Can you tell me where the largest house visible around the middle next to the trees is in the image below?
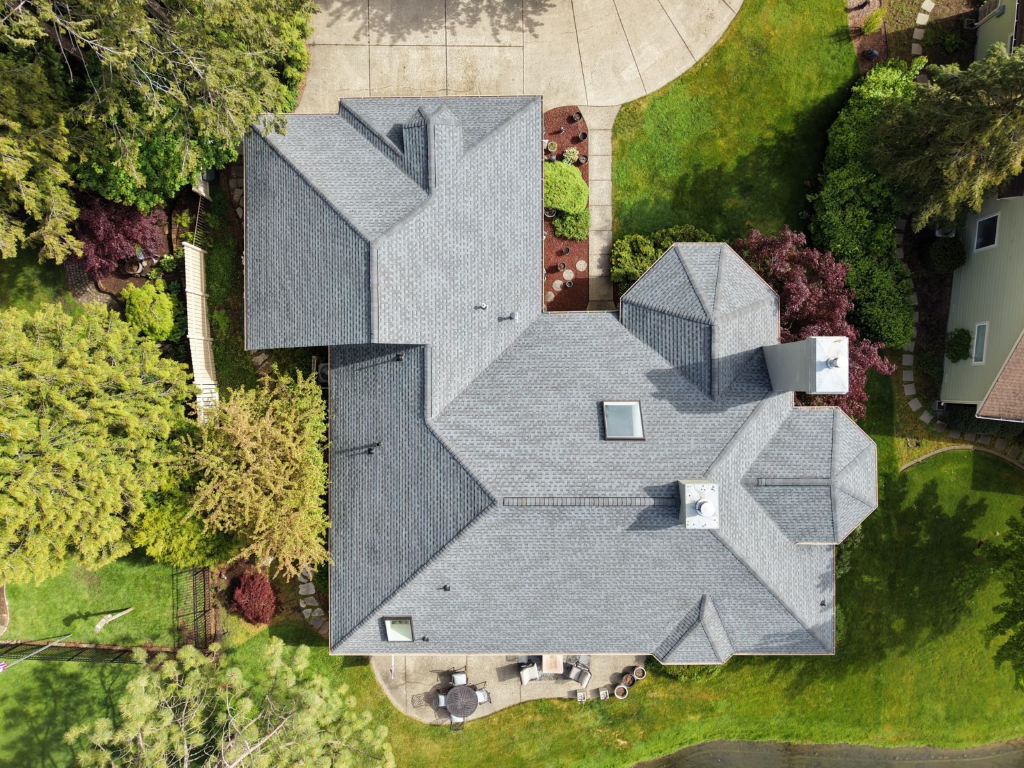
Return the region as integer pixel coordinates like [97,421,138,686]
[244,96,877,664]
